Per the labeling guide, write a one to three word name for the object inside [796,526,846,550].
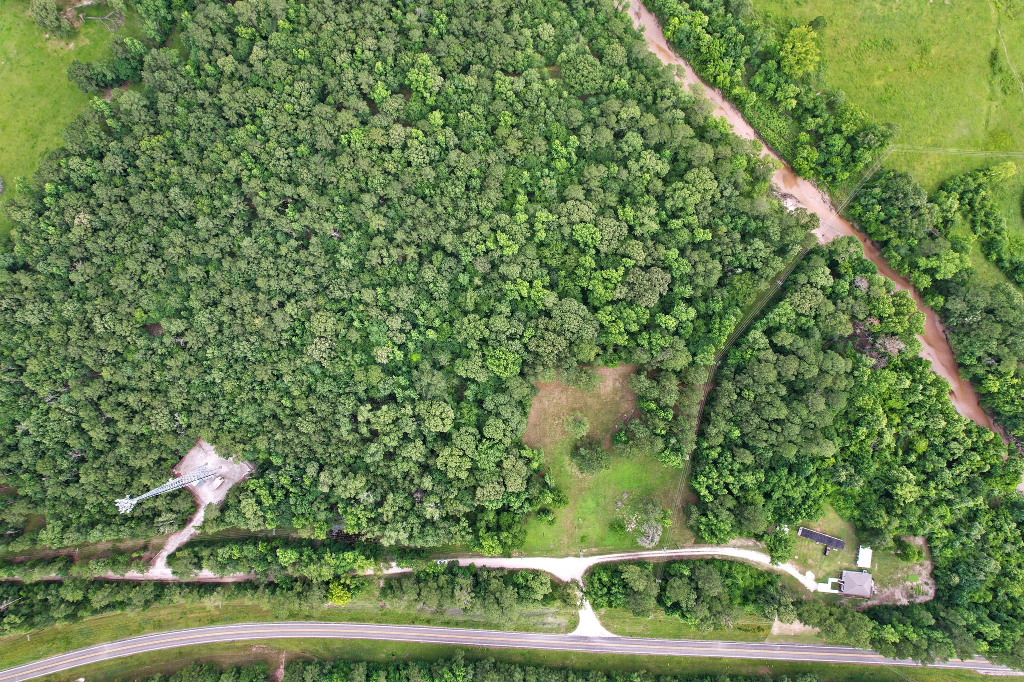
house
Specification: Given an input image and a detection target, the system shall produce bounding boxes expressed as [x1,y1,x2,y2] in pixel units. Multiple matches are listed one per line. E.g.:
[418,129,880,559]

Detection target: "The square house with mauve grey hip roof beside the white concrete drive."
[836,570,873,598]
